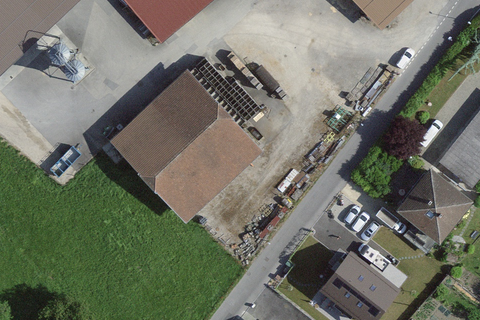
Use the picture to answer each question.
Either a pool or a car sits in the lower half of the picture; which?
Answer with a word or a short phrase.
car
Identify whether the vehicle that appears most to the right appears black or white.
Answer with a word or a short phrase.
white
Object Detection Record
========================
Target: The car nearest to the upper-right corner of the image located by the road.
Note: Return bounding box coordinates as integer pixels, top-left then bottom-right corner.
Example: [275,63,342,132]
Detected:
[396,48,414,70]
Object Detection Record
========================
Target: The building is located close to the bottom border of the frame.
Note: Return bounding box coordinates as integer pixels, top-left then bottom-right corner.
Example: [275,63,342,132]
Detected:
[316,252,402,320]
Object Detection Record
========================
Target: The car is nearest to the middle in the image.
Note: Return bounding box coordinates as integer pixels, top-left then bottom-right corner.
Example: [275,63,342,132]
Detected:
[248,126,263,141]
